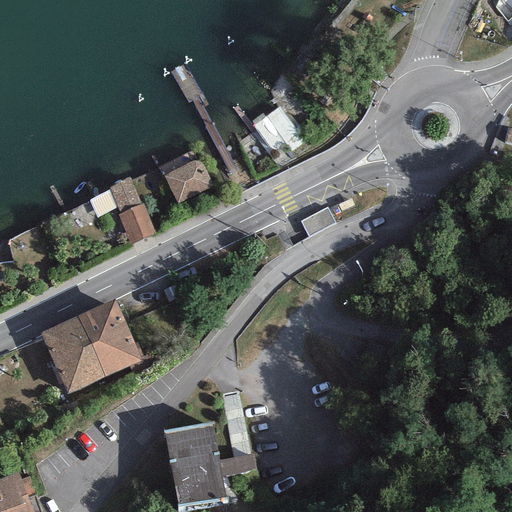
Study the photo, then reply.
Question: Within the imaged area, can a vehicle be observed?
Yes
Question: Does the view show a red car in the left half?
Yes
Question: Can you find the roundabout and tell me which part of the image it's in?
top right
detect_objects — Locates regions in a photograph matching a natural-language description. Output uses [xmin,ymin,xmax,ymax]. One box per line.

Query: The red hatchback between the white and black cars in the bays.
[77,432,96,452]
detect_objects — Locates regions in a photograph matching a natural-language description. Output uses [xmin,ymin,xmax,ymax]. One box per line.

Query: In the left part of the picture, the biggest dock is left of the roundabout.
[172,64,236,172]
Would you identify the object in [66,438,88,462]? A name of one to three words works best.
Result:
car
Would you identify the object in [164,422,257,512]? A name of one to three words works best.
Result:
building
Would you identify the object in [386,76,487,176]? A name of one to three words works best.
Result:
roundabout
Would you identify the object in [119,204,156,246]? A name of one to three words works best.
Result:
shed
